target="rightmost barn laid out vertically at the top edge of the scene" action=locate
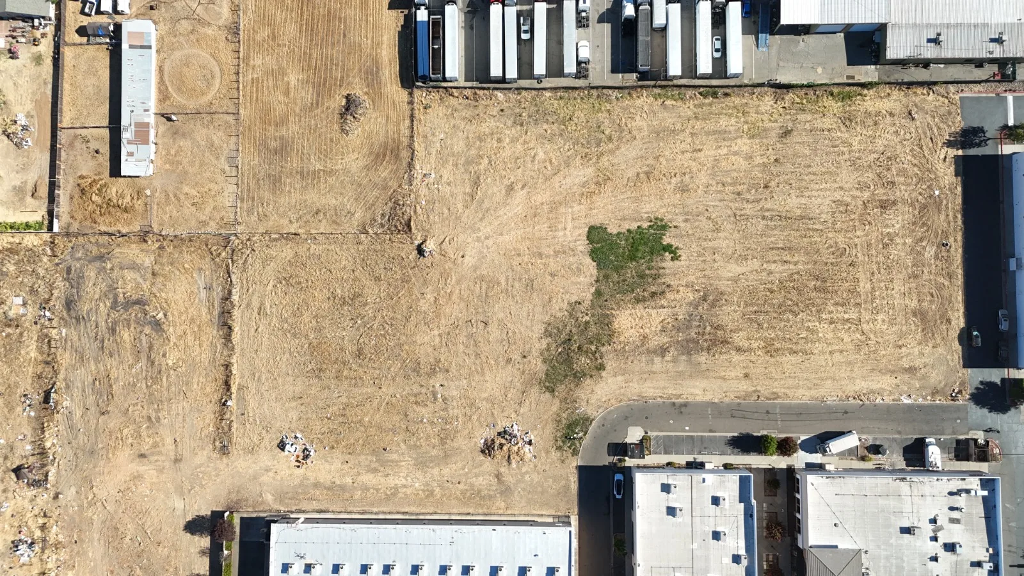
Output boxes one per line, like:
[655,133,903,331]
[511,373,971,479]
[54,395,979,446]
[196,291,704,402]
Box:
[121,20,156,178]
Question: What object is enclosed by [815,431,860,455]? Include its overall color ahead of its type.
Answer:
white truck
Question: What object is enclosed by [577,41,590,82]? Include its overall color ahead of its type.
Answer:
white vehicle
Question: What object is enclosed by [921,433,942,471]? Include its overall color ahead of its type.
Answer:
white truck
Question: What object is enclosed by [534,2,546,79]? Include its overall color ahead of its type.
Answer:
white vehicle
